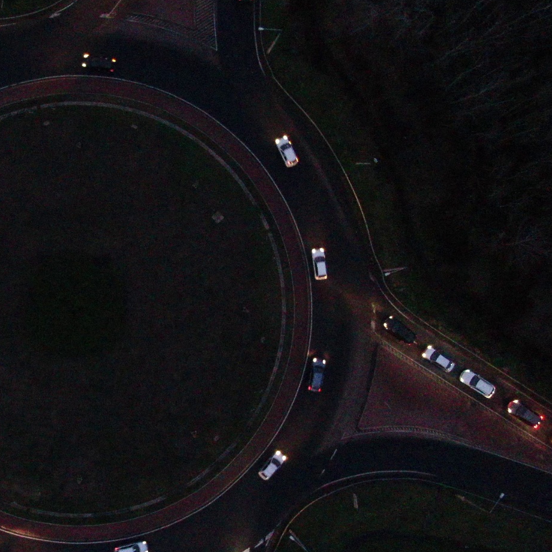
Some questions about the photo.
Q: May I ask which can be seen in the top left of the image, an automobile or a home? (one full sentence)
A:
There is an automobile in the top left of the image.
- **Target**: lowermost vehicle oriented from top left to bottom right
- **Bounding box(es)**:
[509,402,540,426]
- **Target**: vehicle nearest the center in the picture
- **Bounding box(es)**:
[309,247,327,281]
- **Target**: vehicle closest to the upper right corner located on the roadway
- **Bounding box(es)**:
[274,137,296,168]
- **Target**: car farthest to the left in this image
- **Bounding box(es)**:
[84,54,114,72]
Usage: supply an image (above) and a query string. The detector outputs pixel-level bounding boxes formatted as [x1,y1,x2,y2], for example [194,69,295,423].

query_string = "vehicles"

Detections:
[260,451,284,480]
[274,137,296,168]
[84,54,114,72]
[309,247,327,281]
[116,541,146,552]
[307,360,325,389]
[383,317,416,344]
[460,370,494,397]
[509,402,540,426]
[422,346,455,372]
